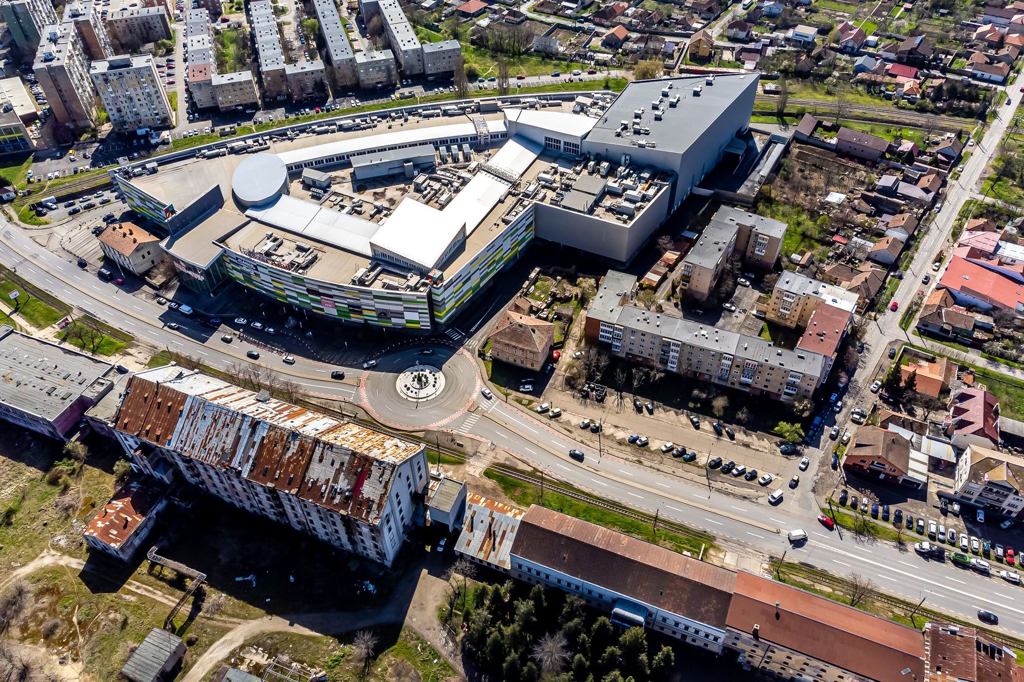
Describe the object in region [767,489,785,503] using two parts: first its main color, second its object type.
white vehicle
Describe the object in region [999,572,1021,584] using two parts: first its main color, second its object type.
white vehicle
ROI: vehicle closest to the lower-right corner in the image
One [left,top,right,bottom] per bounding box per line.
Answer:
[978,612,998,624]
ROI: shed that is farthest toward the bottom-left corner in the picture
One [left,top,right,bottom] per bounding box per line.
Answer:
[121,627,188,682]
